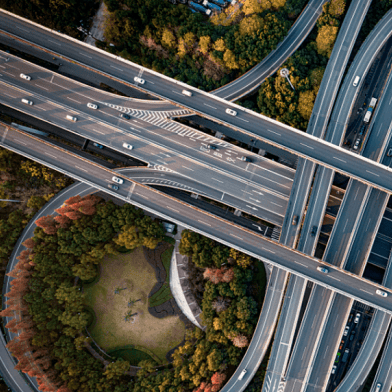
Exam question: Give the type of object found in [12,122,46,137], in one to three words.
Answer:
vehicle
